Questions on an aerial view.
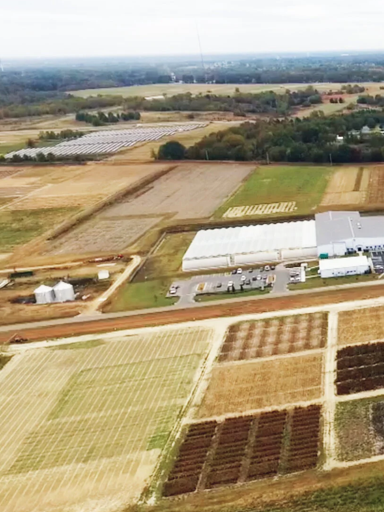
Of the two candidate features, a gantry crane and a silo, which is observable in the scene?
silo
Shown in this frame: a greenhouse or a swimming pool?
greenhouse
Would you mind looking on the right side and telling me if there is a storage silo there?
No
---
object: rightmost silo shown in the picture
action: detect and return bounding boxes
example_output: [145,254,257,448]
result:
[54,278,82,302]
